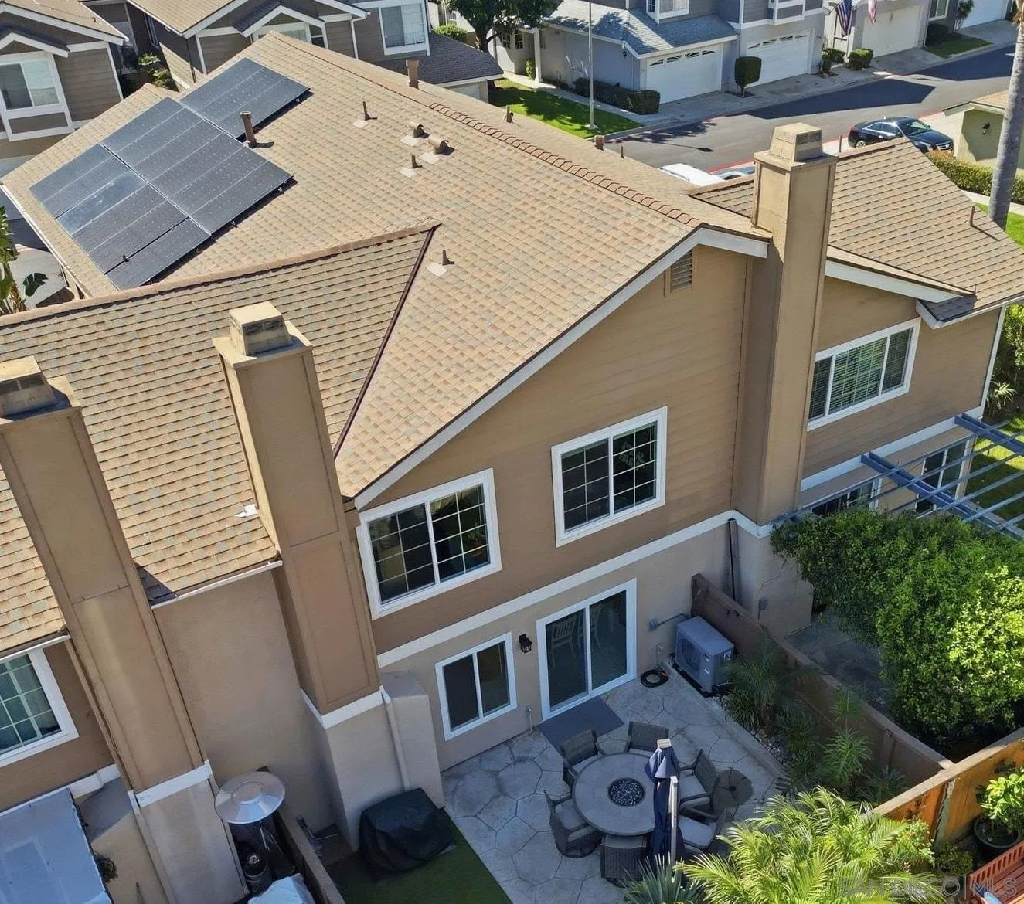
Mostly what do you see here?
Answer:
buildings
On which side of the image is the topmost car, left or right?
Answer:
right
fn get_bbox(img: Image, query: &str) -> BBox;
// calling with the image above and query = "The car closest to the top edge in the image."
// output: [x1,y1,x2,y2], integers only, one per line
[838,105,946,152]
